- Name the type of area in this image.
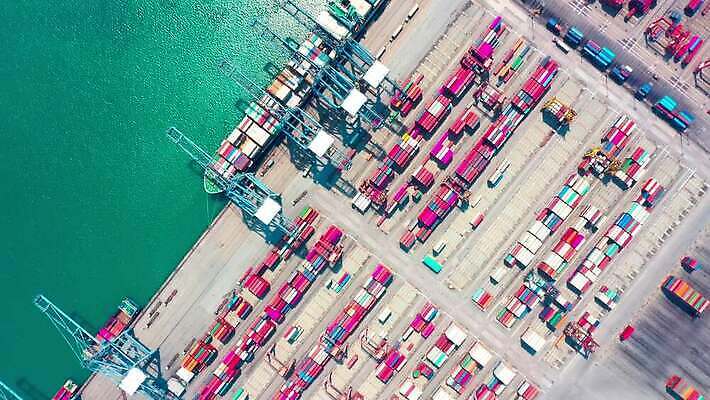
port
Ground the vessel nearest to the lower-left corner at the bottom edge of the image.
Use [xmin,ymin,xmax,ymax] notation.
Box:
[60,371,83,400]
